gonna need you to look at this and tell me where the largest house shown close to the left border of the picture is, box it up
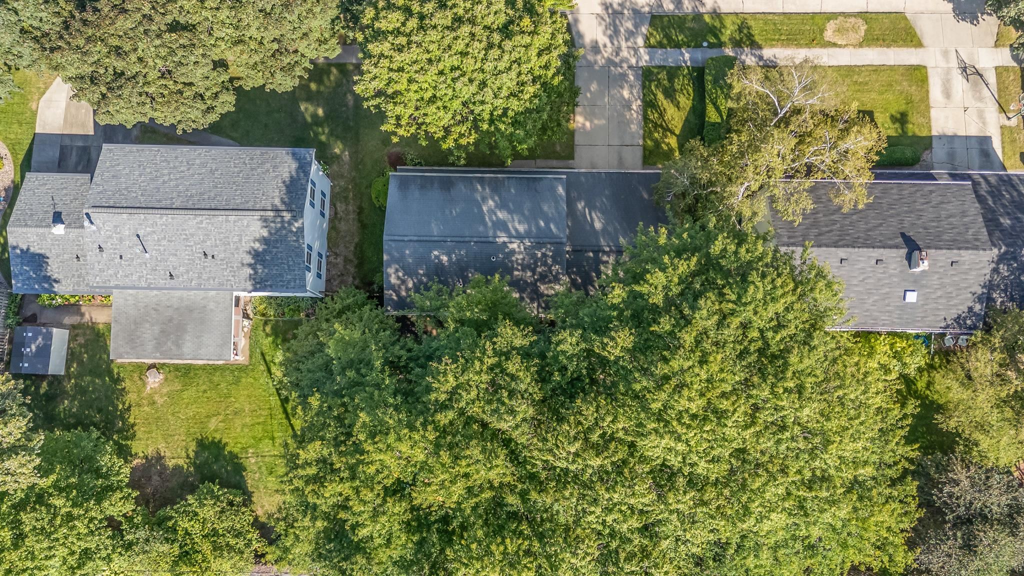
[7,143,334,362]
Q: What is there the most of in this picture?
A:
trees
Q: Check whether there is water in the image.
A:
No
